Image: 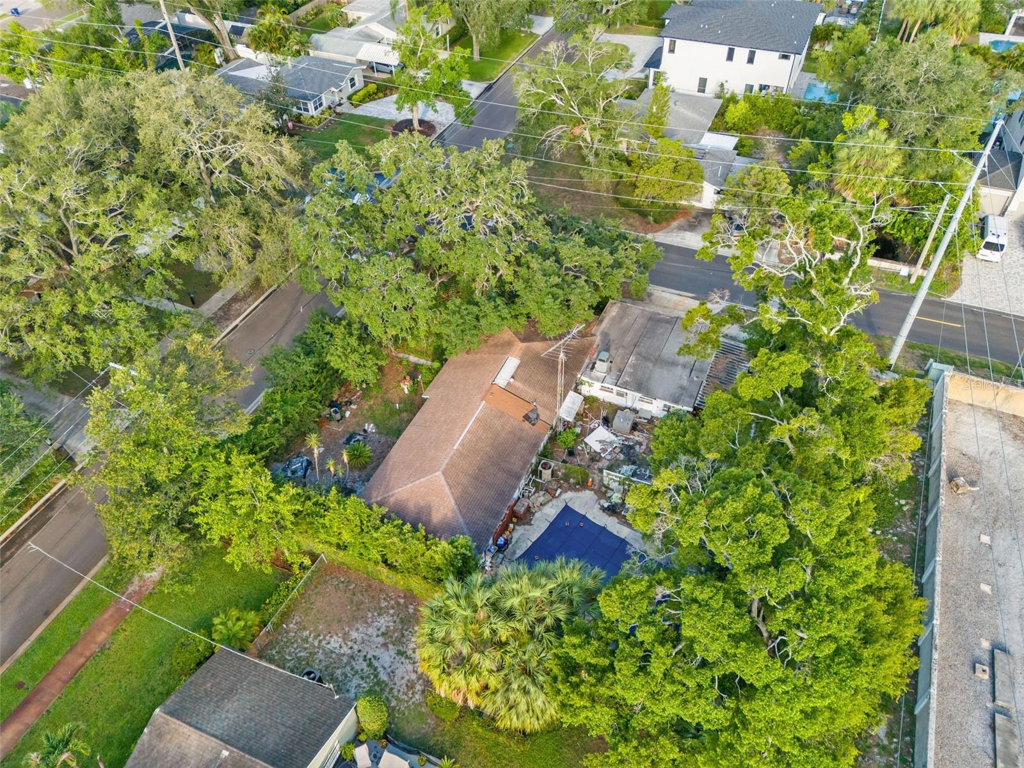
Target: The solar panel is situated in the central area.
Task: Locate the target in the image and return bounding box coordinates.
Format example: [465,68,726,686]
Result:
[493,356,520,386]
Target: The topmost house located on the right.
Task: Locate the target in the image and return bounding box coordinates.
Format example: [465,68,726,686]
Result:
[641,4,816,100]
